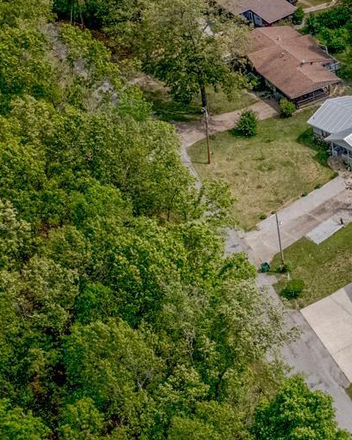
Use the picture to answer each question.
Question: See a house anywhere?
Yes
